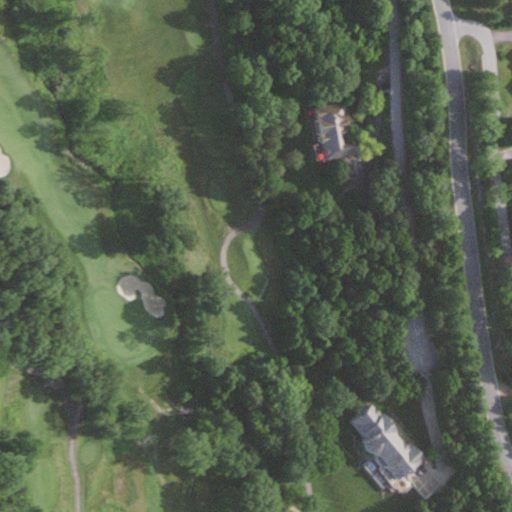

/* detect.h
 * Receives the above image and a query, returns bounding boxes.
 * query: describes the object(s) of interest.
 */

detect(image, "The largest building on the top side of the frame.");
[318,106,352,154]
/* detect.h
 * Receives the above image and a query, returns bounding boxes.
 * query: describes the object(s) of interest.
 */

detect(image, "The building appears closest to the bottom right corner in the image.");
[352,405,430,481]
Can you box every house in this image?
[318,106,352,154]
[352,405,430,481]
